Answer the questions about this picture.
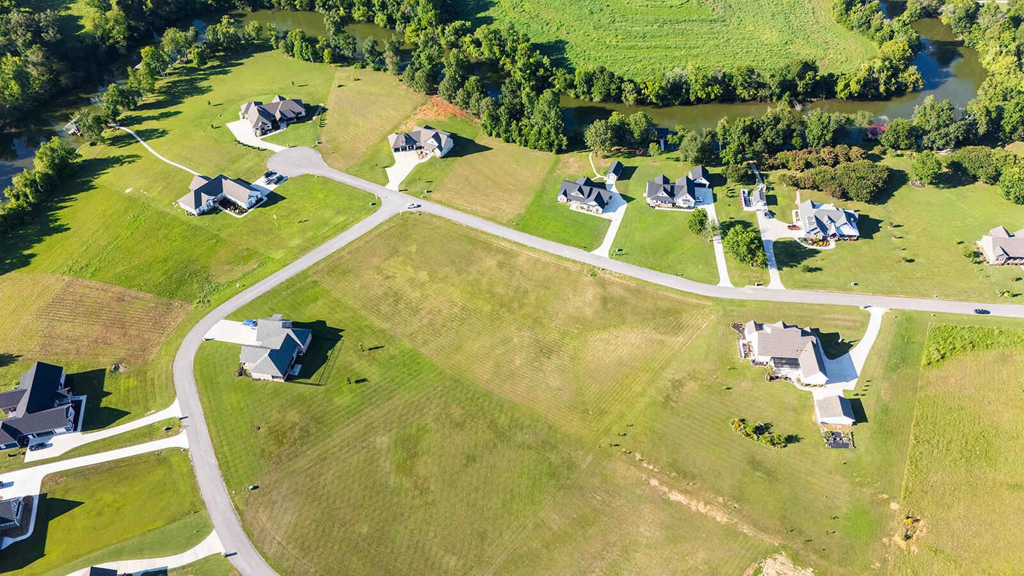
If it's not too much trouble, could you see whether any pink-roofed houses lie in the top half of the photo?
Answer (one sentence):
No, no pink-roofed house appears in the top half of the photo.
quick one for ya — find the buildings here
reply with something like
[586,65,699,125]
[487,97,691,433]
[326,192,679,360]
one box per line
[978,225,1024,267]
[385,125,454,160]
[240,95,309,136]
[237,314,315,385]
[794,199,859,245]
[0,362,83,453]
[0,494,29,550]
[645,175,698,209]
[750,190,767,209]
[602,161,627,186]
[555,177,615,218]
[738,320,830,386]
[814,395,858,427]
[80,565,123,576]
[175,174,266,218]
